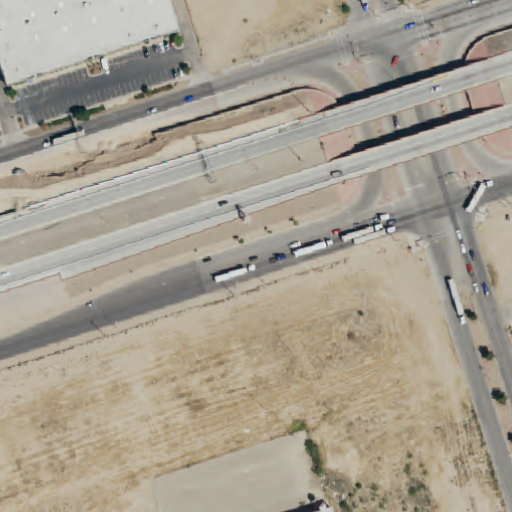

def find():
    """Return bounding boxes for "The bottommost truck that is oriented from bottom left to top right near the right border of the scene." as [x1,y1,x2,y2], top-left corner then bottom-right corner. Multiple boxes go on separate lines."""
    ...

[466,180,496,212]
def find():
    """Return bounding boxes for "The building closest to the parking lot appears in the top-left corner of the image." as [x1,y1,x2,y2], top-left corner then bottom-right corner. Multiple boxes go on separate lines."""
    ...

[0,0,180,85]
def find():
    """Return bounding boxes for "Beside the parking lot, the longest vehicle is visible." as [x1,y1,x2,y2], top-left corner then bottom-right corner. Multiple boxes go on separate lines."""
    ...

[42,130,85,148]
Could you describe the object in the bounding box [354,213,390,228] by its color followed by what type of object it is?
gray vehicle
